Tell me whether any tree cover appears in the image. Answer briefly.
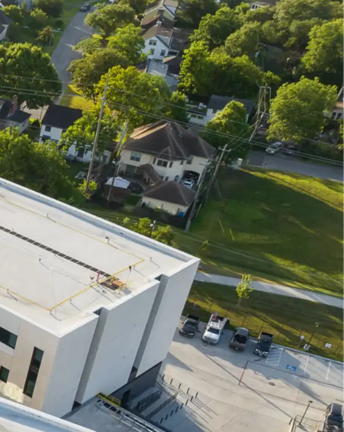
Yes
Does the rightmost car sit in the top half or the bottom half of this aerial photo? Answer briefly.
bottom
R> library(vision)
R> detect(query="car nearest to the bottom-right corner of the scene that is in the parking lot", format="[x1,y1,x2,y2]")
[321,399,344,426]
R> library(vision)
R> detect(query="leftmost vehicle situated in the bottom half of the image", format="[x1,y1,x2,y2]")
[179,311,202,338]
